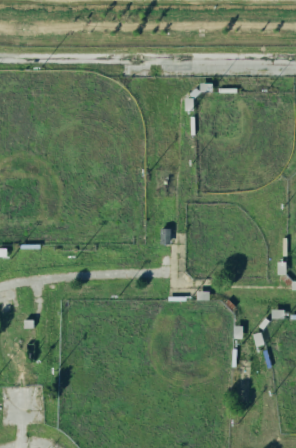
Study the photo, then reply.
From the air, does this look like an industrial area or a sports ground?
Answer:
sports ground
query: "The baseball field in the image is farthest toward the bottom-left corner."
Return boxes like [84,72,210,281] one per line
[60,299,235,448]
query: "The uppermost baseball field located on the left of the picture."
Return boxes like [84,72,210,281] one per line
[0,70,146,244]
